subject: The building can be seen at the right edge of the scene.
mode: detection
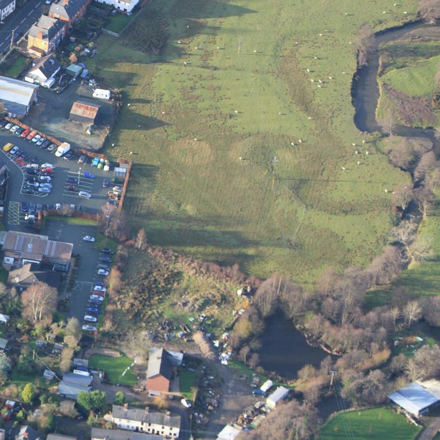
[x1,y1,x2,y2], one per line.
[389,381,440,425]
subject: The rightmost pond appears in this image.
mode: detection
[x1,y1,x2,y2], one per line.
[259,302,336,380]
